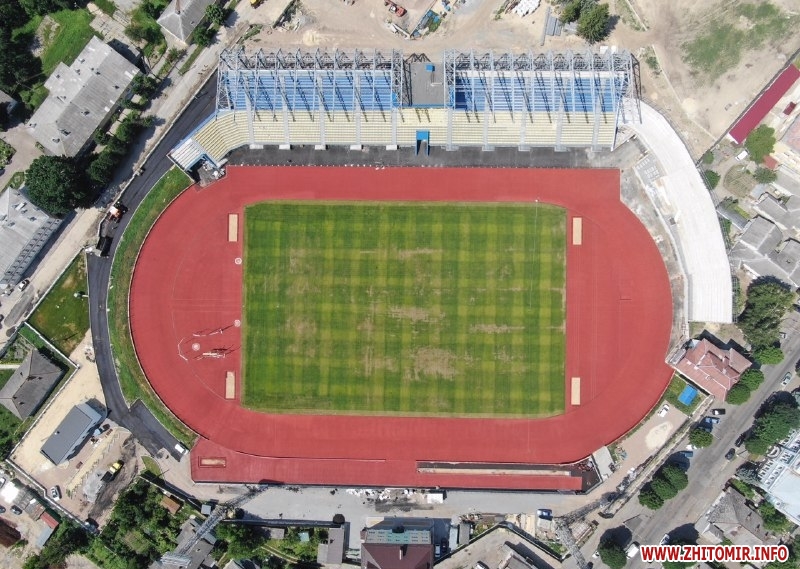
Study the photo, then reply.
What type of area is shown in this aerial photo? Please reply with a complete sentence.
What you see here is a sports ground.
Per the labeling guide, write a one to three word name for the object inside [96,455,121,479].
truck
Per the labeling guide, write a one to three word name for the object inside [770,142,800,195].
house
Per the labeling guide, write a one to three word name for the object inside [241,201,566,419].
soccer field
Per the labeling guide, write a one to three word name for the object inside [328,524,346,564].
building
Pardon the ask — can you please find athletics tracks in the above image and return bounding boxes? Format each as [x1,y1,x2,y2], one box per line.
[129,166,675,492]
